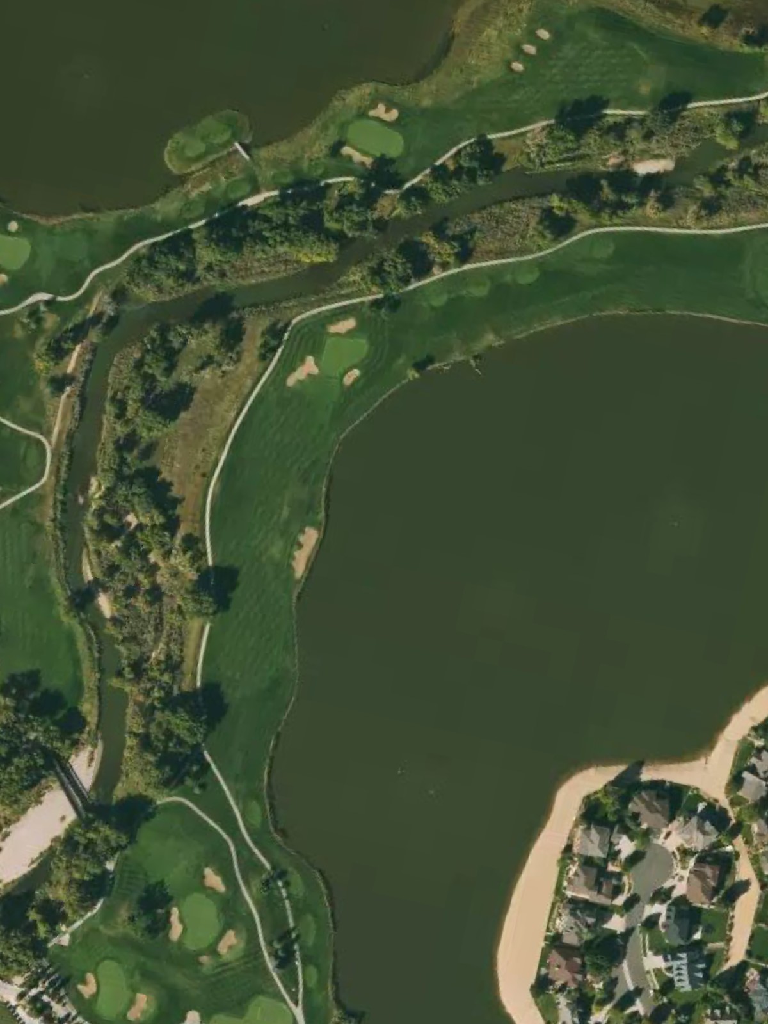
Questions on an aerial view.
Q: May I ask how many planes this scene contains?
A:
zero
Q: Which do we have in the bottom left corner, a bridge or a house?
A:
bridge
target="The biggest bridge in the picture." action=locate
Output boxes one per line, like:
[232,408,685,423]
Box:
[48,754,91,820]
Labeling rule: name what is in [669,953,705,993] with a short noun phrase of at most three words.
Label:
house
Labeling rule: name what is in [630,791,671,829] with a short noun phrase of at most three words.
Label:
house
